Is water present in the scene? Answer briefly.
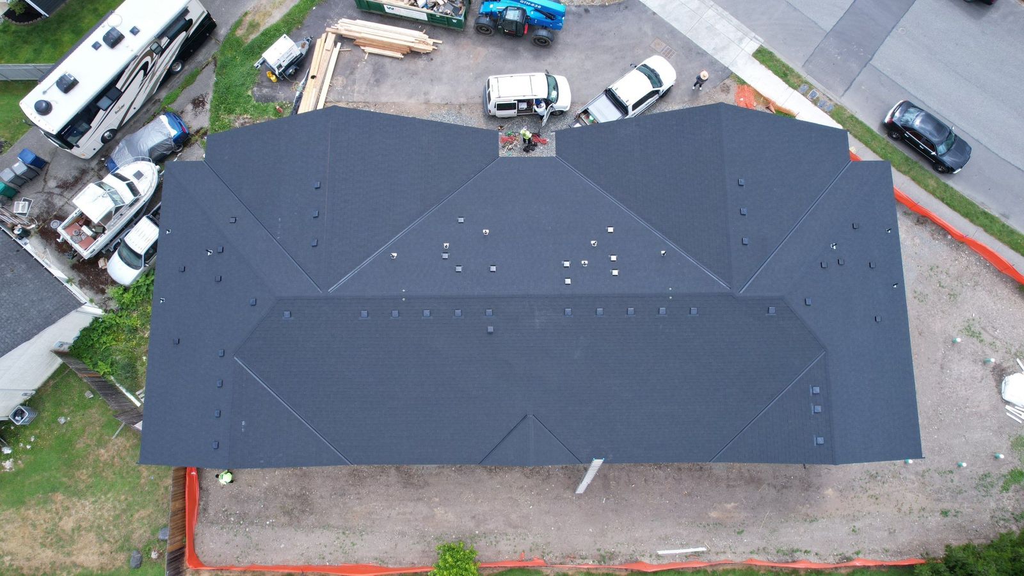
No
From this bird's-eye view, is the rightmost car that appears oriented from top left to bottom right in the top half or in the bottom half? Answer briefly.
top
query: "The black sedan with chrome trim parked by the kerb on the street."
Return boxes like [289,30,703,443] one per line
[882,98,976,177]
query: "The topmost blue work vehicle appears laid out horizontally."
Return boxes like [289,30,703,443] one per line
[461,0,567,48]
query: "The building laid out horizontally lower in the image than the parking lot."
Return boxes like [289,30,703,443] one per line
[139,102,922,468]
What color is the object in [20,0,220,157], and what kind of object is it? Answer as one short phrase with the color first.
white camper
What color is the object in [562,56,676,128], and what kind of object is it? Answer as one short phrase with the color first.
white truck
